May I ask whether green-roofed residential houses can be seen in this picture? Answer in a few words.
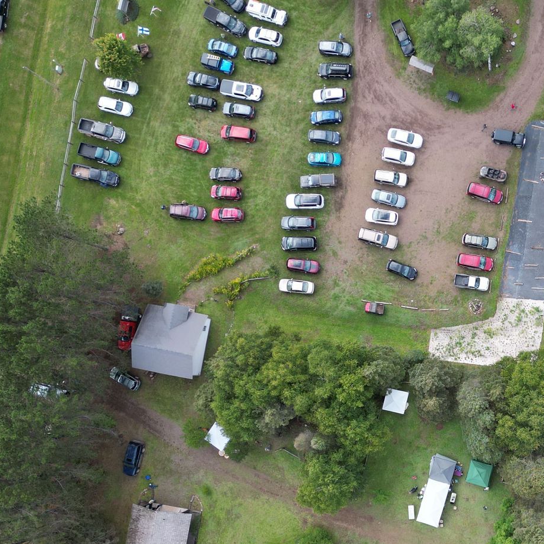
No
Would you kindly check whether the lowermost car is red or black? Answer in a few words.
black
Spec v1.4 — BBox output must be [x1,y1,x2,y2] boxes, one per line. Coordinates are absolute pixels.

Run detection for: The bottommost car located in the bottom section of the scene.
[123,440,146,477]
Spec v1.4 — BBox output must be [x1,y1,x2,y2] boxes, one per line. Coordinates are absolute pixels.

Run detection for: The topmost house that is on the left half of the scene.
[132,303,210,379]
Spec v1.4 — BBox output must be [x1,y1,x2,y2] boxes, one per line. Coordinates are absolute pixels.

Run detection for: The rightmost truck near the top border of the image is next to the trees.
[388,16,417,60]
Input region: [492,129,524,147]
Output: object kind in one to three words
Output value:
car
